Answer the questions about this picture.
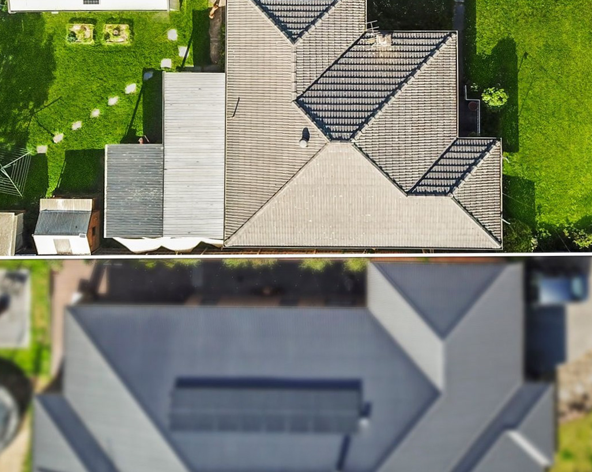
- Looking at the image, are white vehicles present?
No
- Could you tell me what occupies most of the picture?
buildings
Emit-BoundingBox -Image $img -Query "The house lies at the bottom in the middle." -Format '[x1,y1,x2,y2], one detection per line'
[31,257,556,472]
